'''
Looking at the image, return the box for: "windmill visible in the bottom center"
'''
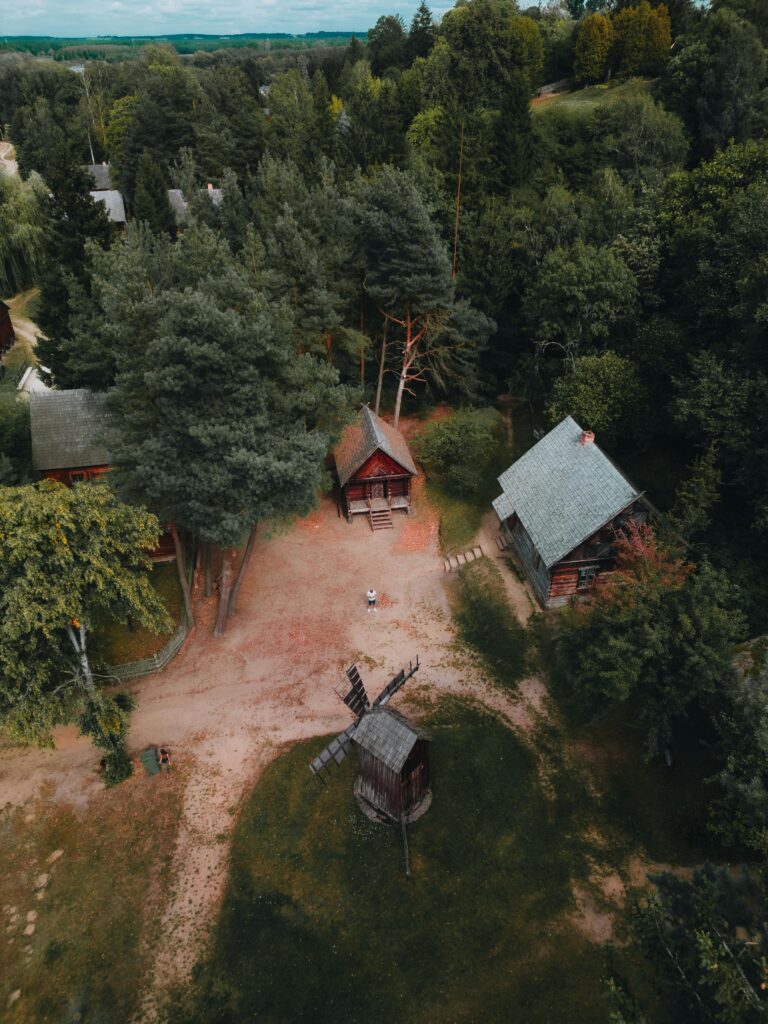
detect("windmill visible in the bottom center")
[306,658,438,879]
